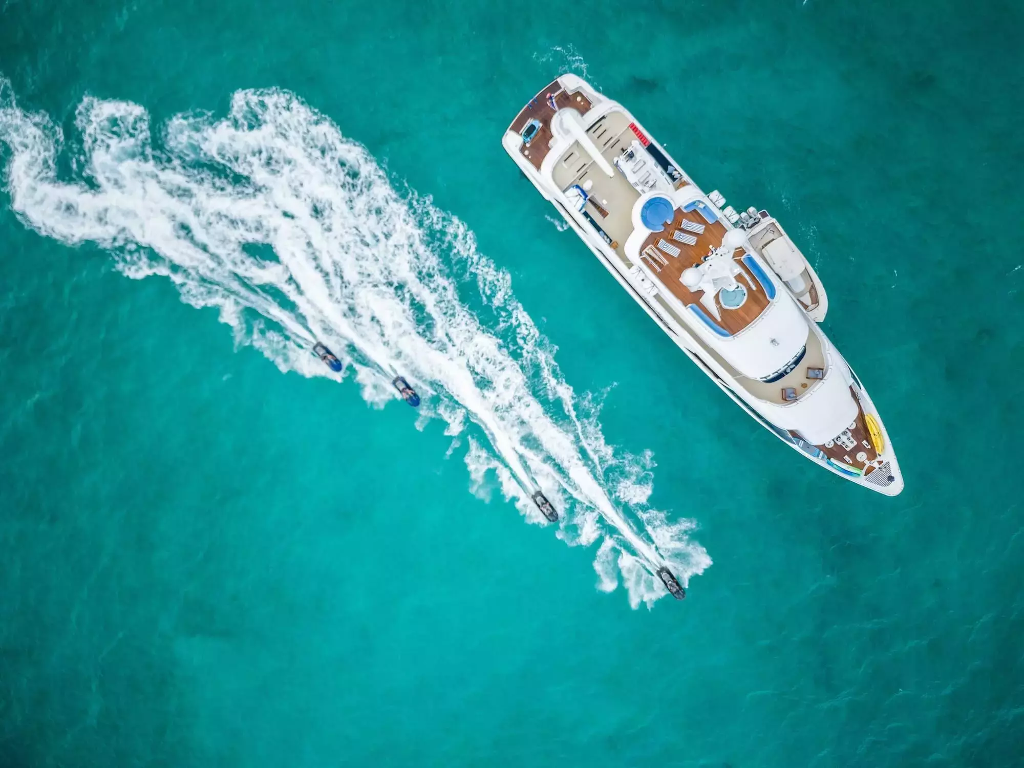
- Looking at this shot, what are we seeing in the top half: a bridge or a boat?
boat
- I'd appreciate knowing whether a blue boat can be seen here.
Yes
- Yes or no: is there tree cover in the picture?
No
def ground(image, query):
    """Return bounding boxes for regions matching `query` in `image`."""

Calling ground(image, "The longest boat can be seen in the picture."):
[501,78,901,495]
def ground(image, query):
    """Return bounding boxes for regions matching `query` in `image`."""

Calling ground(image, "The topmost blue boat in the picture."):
[519,118,541,147]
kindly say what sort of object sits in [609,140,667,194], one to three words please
boat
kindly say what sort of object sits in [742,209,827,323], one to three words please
boat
